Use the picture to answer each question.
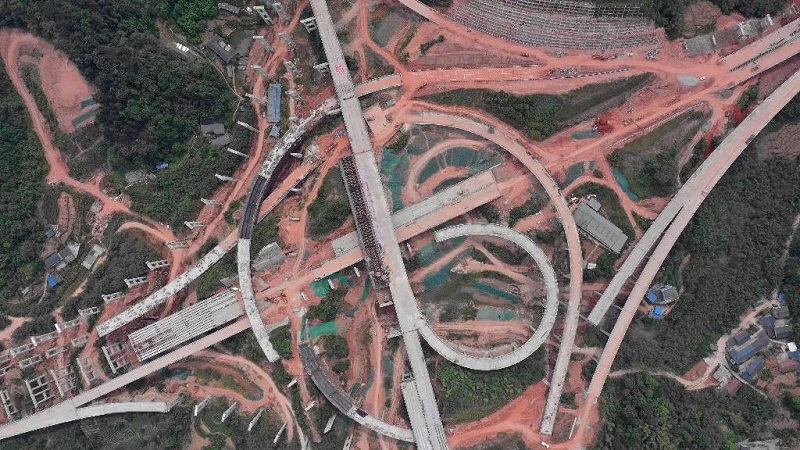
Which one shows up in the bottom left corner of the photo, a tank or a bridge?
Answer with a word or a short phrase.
bridge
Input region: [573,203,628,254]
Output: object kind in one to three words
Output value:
building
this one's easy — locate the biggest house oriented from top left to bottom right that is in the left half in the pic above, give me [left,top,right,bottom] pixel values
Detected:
[209,35,240,64]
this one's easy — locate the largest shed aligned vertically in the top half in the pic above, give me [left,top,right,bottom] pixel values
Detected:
[266,84,282,123]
